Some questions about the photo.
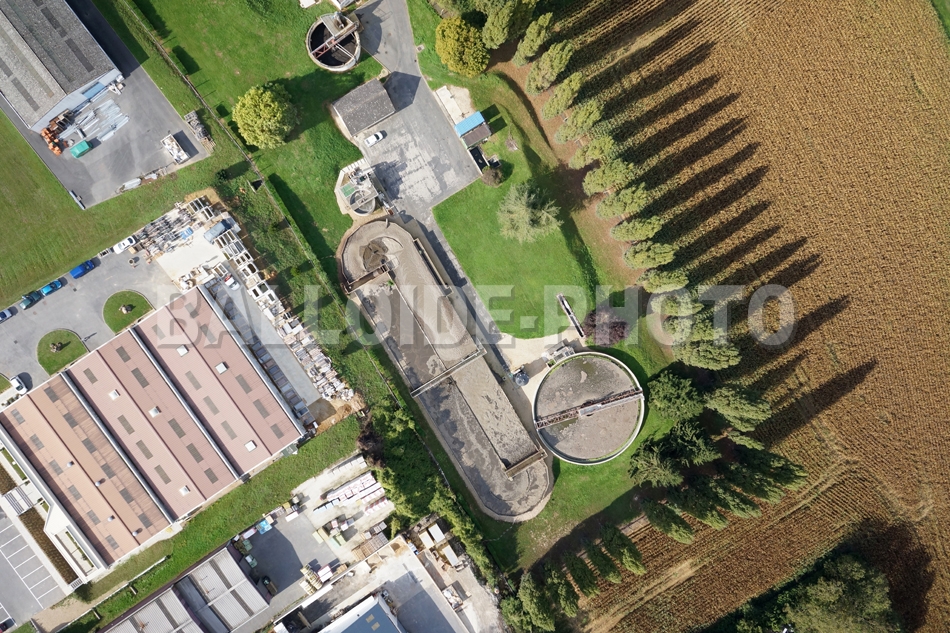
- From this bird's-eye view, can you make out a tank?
Yes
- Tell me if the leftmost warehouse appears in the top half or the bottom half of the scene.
top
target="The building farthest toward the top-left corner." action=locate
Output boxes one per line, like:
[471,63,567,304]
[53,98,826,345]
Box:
[0,0,122,130]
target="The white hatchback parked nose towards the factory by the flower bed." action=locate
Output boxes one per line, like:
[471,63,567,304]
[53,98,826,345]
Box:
[7,375,31,394]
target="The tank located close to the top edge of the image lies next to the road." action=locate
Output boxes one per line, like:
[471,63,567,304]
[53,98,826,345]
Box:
[305,10,365,76]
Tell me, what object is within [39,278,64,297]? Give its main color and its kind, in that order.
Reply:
blue car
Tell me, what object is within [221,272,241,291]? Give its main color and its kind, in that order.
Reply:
white vehicle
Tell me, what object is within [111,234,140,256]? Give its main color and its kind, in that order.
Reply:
white car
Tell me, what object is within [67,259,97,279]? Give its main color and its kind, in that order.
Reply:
blue vehicle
